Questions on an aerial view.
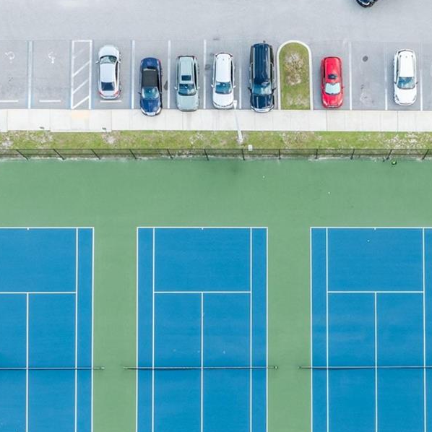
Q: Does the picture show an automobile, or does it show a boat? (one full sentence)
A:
This aerial view contains an automobile.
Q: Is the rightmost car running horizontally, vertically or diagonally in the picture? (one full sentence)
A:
From this overhead view, the rightmost car appears to run vertically.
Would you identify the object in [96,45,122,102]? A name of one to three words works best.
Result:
car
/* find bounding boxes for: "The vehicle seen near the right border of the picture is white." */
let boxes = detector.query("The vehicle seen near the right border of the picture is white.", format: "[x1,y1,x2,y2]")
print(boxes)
[393,47,420,107]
